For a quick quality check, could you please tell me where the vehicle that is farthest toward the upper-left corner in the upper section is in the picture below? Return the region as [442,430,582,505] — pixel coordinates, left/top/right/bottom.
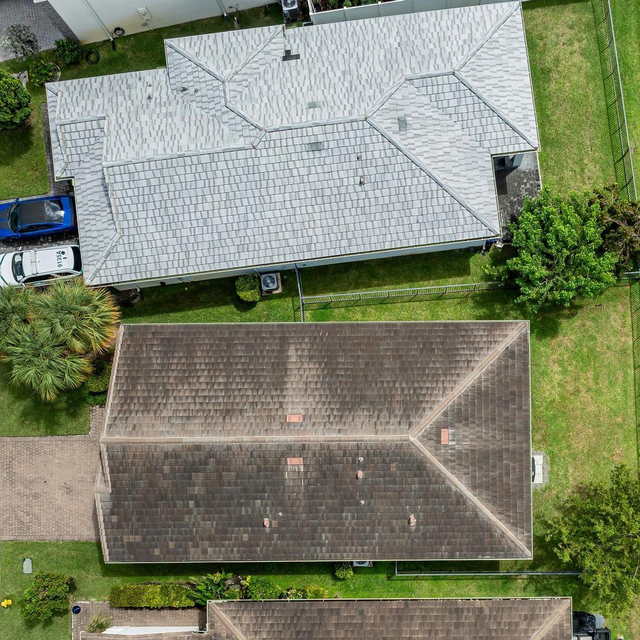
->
[0,195,79,243]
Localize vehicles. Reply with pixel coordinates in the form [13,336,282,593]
[0,195,79,243]
[0,239,84,288]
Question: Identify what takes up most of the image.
buildings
